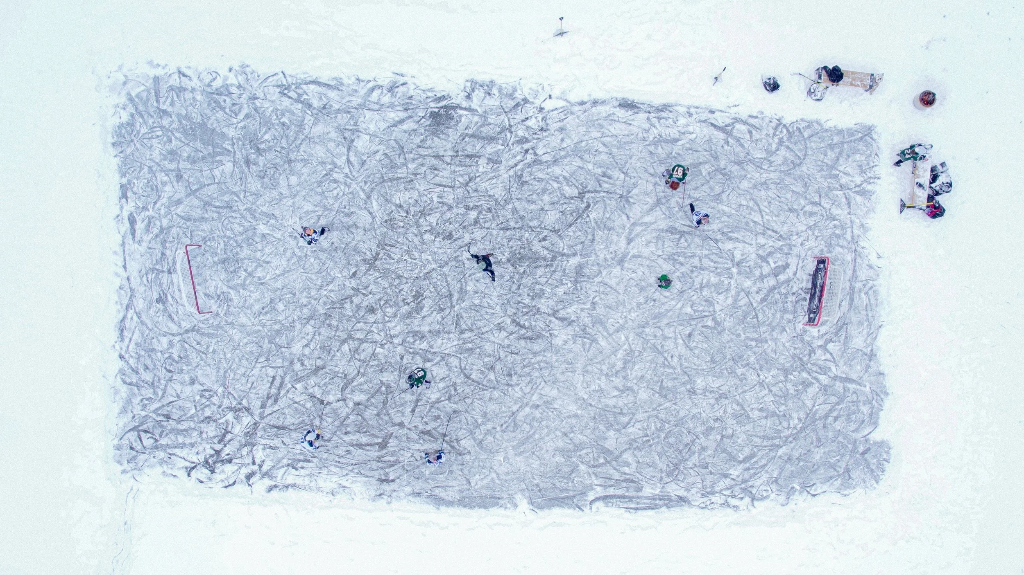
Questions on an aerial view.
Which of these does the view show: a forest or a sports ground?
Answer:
sports ground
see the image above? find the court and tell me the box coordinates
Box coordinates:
[101,61,897,521]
